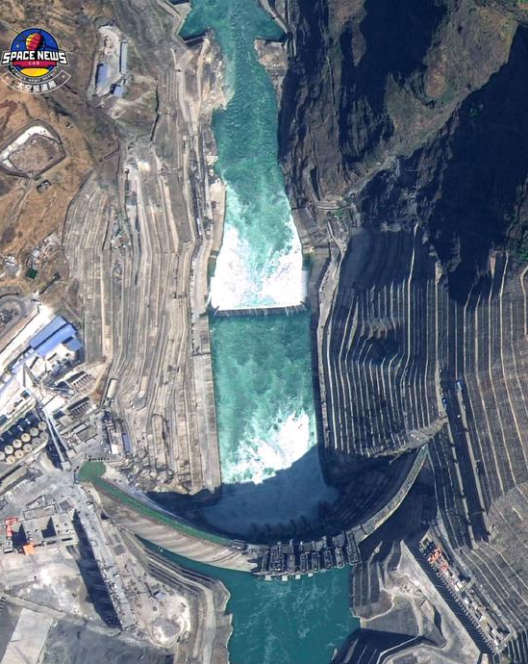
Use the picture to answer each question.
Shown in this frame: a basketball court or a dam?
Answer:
dam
